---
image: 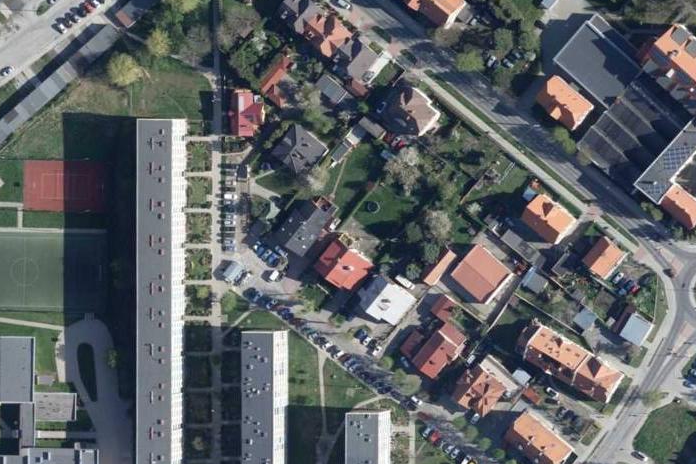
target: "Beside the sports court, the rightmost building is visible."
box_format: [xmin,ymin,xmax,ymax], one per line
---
[131,117,192,464]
